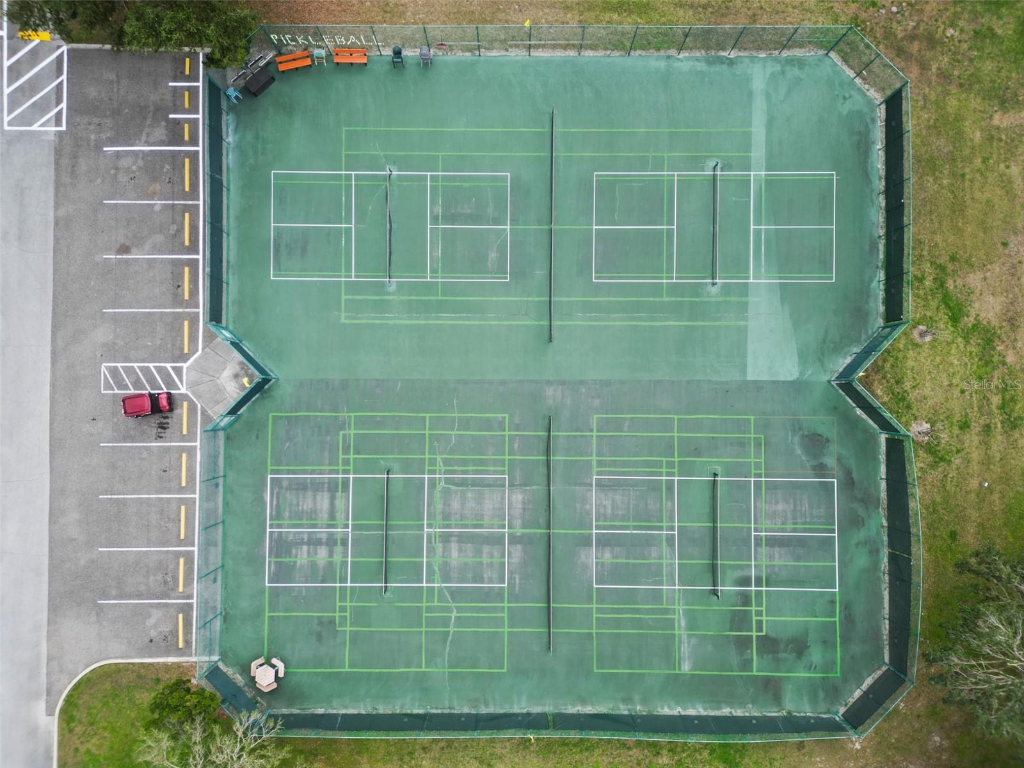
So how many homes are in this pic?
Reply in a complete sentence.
The photo contains no homes.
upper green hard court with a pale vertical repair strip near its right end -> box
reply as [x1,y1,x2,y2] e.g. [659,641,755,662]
[226,55,878,381]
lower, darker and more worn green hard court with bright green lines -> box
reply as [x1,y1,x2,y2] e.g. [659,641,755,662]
[221,378,884,712]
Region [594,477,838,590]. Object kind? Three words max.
sports court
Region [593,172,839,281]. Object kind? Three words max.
sports court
